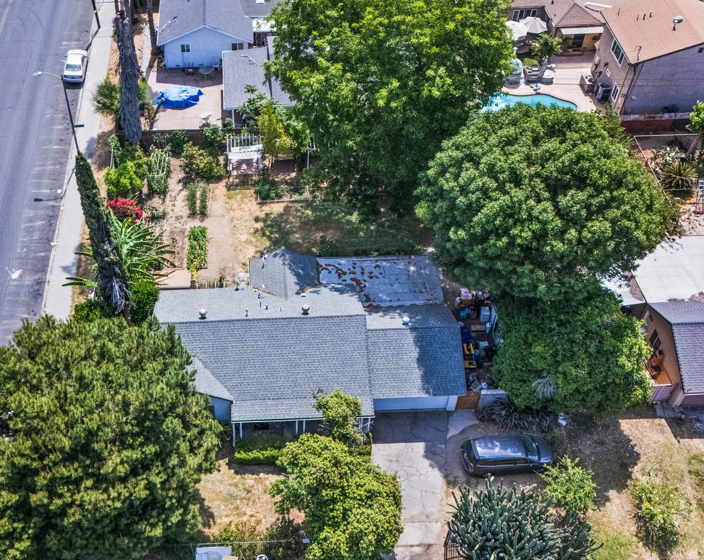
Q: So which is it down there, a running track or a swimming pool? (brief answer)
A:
swimming pool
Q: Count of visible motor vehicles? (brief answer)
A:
two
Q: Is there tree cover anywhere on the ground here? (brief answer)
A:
Yes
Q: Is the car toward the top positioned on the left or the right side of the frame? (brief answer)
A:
left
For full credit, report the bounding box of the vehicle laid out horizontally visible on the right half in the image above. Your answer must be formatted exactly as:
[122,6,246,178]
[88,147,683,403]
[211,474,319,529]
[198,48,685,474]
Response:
[462,437,556,481]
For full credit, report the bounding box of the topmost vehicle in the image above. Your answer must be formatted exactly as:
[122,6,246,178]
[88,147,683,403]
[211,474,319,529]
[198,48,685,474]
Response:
[61,53,88,89]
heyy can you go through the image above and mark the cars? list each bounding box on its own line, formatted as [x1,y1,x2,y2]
[61,53,88,89]
[462,437,556,481]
